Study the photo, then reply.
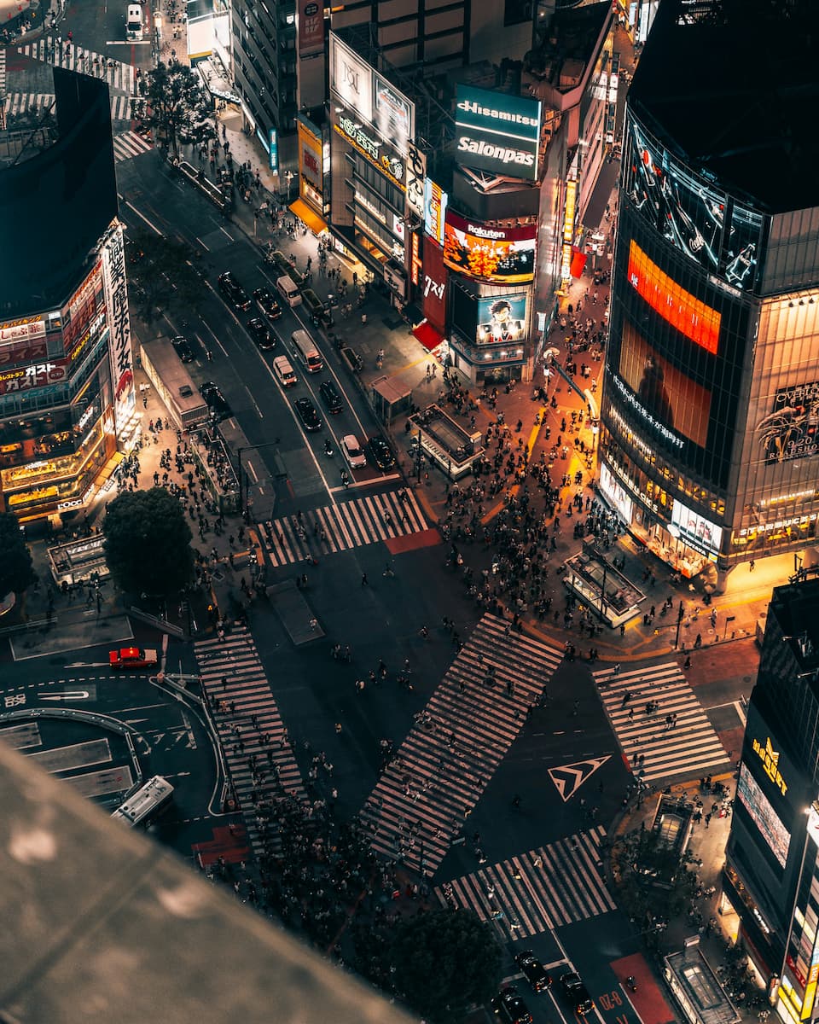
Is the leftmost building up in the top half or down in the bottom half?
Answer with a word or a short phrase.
top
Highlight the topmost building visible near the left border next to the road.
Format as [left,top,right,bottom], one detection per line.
[0,100,57,145]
